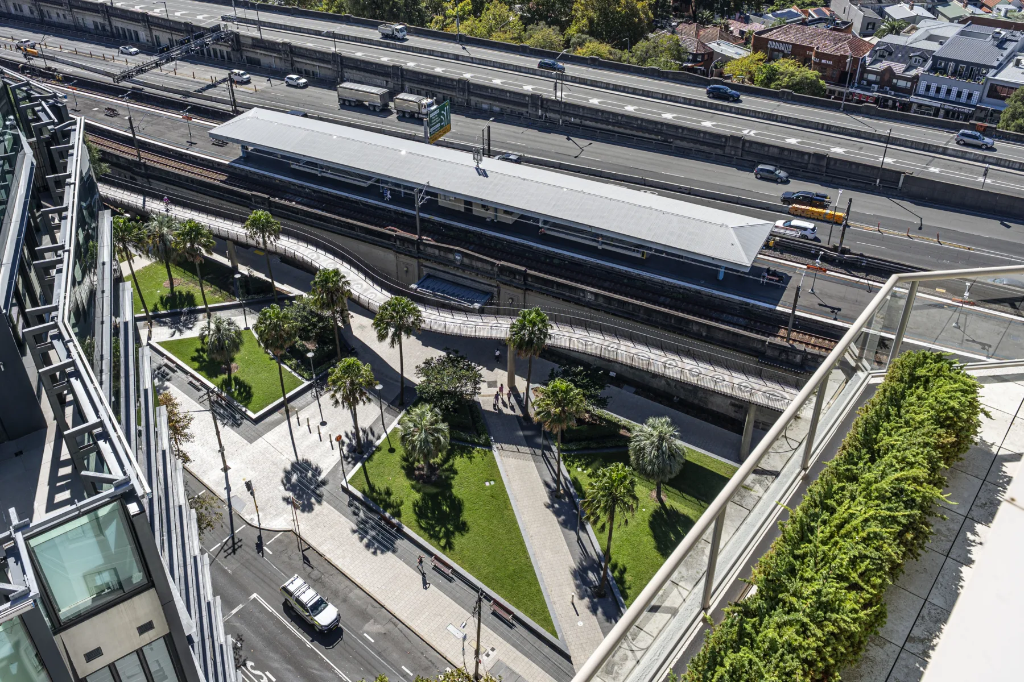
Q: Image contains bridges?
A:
Yes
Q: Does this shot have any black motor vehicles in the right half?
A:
Yes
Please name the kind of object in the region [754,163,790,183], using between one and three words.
car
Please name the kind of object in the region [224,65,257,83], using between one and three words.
vehicle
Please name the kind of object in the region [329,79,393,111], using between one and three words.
trailer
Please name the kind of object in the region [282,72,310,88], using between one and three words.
car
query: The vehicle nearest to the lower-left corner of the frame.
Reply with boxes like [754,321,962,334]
[280,575,347,638]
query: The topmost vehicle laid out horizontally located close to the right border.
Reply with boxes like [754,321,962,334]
[956,130,994,149]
